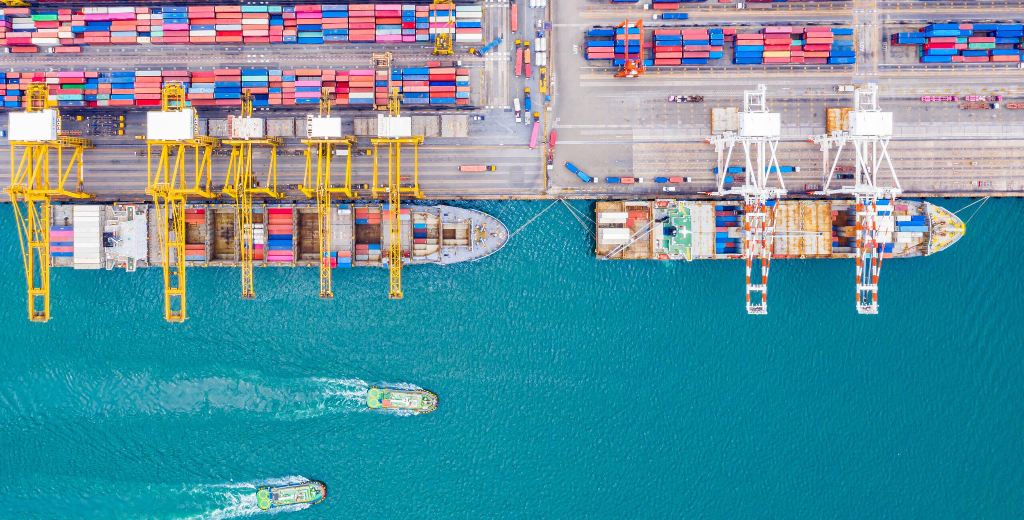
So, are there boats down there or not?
Yes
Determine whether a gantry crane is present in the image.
Yes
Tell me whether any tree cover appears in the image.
No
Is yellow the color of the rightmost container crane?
No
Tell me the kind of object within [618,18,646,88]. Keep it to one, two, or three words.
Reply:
container crane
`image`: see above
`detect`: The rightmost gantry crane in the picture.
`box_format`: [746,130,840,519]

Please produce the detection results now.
[808,82,903,315]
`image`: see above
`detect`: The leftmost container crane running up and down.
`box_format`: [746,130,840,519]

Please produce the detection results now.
[9,82,97,322]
